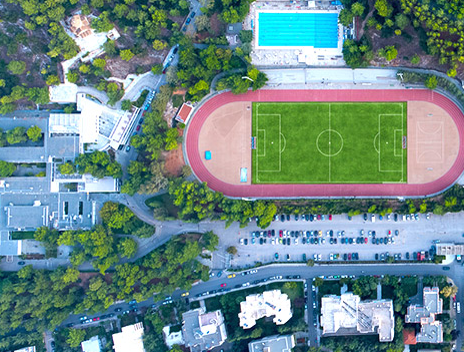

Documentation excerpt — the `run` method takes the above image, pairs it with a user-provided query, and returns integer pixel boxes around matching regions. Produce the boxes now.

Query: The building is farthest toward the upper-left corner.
[60,14,109,61]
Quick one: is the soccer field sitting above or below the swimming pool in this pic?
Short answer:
below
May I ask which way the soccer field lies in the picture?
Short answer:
from side to side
